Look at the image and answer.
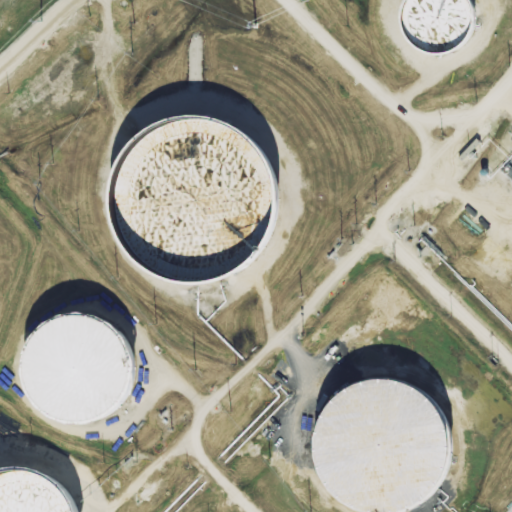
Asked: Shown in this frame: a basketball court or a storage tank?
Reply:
storage tank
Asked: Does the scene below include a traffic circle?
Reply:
No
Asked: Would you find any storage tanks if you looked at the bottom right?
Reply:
Yes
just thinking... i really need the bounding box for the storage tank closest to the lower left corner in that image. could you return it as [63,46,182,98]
[0,464,84,512]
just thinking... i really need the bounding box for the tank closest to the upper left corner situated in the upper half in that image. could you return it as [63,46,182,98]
[108,115,282,288]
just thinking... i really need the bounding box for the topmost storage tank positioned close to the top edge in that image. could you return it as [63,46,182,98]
[398,0,483,58]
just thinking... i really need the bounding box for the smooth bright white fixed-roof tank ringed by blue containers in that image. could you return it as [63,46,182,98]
[20,312,136,426]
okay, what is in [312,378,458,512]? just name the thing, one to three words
storage tank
